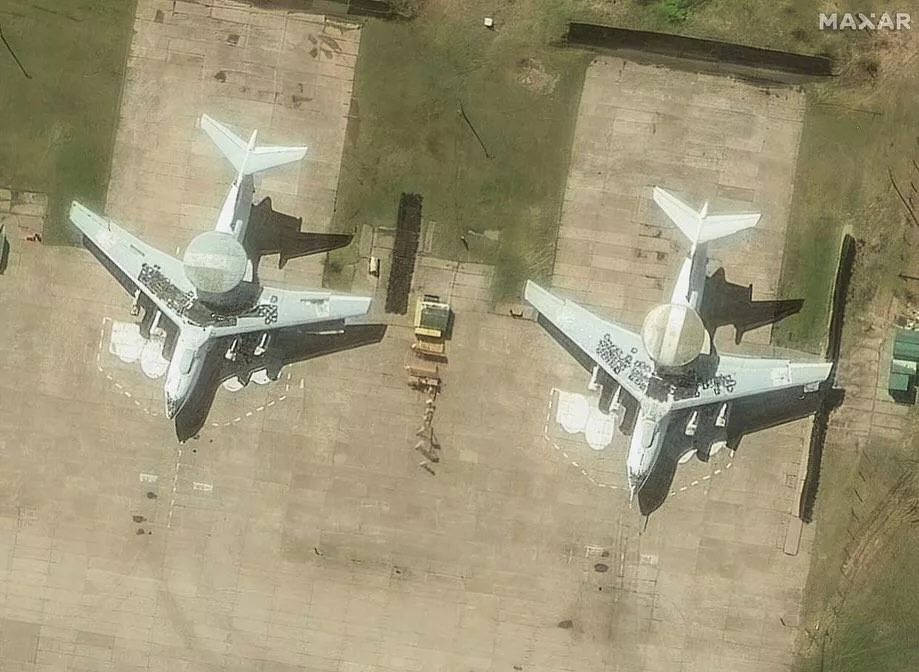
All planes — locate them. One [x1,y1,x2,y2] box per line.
[521,188,829,506]
[70,116,372,416]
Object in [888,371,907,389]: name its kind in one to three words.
shed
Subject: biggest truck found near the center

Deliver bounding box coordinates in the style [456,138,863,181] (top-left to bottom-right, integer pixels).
[412,290,452,341]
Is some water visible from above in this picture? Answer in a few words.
No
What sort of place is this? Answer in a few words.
airport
